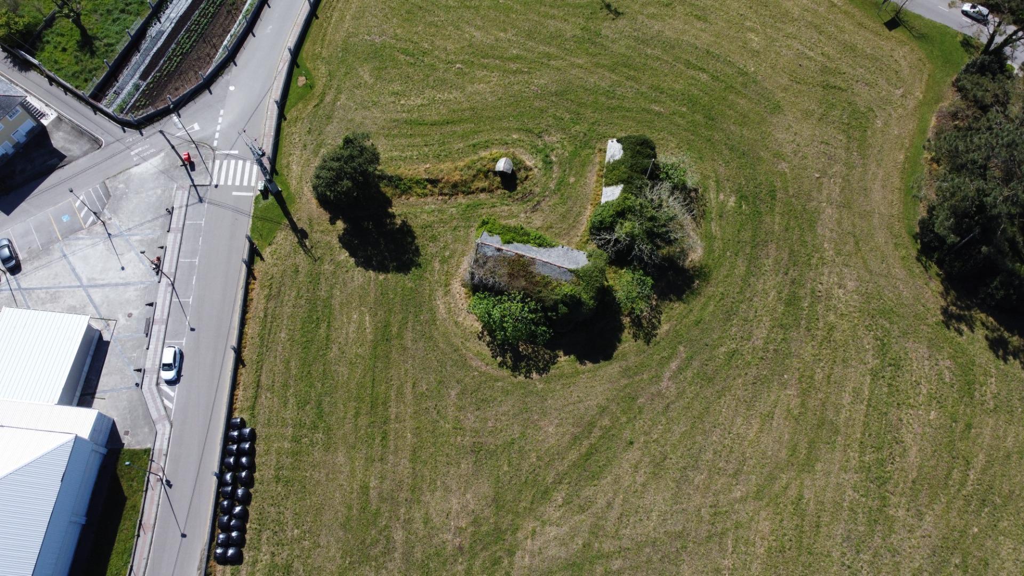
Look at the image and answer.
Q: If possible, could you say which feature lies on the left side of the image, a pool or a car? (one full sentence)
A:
What appears on the left side of the image is a car.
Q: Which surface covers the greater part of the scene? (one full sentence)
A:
The scene is dominated by grass.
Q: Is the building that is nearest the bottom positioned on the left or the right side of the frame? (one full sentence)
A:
It is on the left.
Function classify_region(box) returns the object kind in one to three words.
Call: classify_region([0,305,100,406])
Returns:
shed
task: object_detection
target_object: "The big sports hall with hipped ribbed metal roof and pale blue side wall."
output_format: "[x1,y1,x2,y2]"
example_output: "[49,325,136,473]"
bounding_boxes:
[0,425,108,576]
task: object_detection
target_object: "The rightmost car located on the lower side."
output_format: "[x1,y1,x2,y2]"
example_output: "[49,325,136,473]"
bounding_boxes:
[160,347,185,384]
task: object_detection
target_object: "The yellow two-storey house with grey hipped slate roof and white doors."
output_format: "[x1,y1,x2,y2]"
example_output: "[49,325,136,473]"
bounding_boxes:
[0,82,47,173]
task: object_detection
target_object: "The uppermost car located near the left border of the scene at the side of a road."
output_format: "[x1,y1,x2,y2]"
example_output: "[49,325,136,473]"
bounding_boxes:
[0,238,24,273]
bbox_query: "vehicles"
[0,238,24,273]
[960,4,995,27]
[160,347,185,384]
